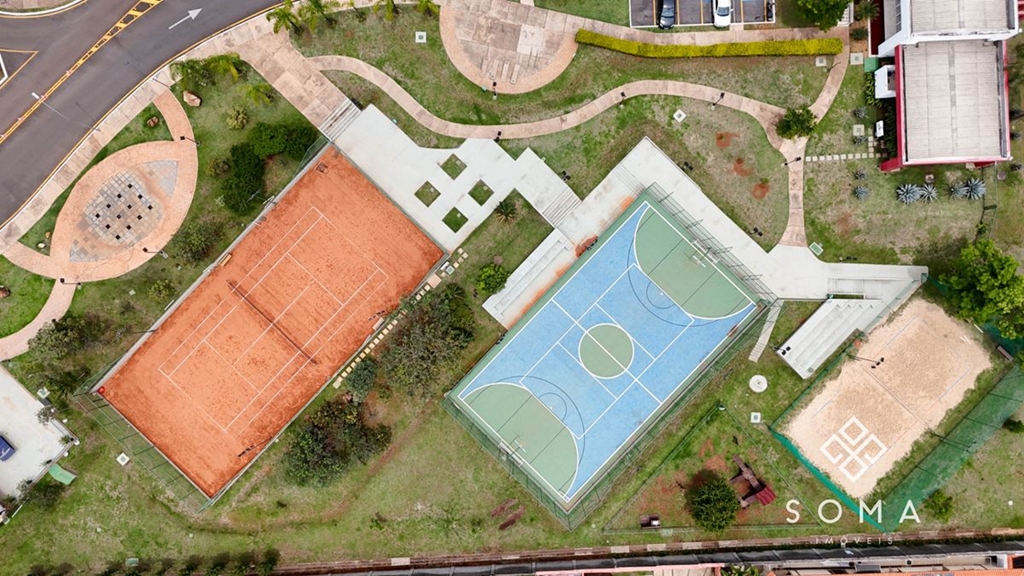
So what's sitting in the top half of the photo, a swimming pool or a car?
car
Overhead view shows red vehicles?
No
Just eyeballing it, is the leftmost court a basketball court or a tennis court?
tennis court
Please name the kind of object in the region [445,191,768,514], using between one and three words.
sports court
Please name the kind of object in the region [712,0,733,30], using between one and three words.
car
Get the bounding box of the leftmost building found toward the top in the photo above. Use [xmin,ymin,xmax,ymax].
[881,0,1019,172]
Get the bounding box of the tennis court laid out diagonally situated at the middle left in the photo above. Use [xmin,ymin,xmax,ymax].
[92,141,450,503]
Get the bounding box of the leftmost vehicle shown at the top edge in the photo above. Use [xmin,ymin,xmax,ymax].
[658,0,679,30]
